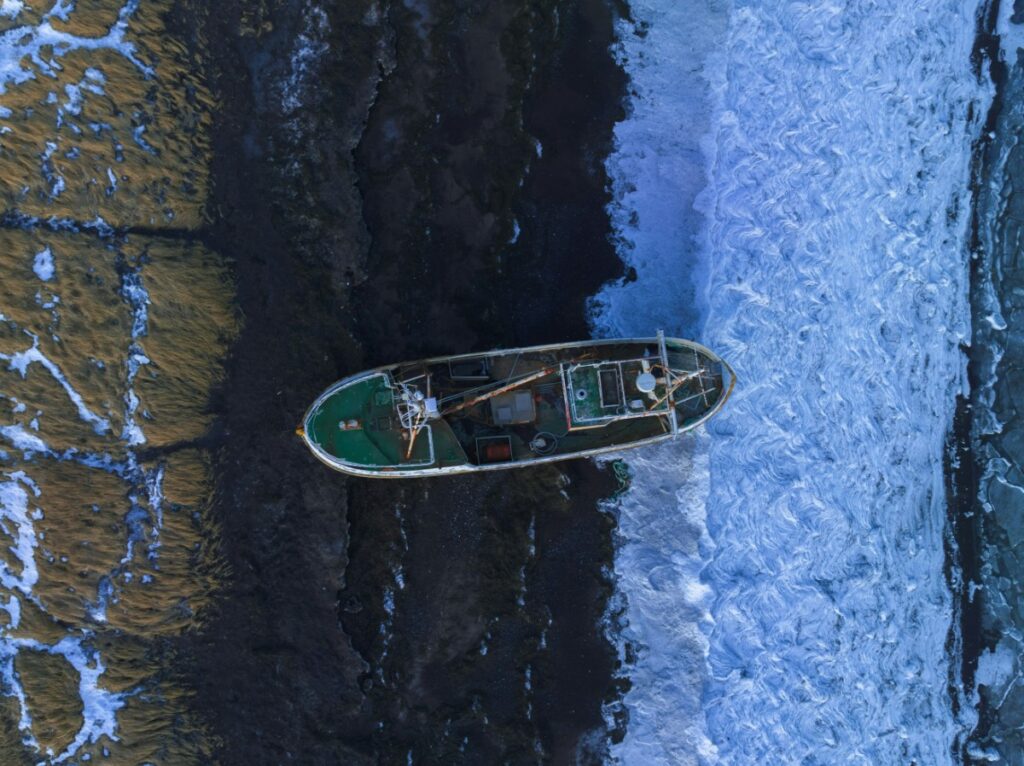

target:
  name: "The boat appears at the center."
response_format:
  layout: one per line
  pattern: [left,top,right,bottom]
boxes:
[296,329,736,478]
